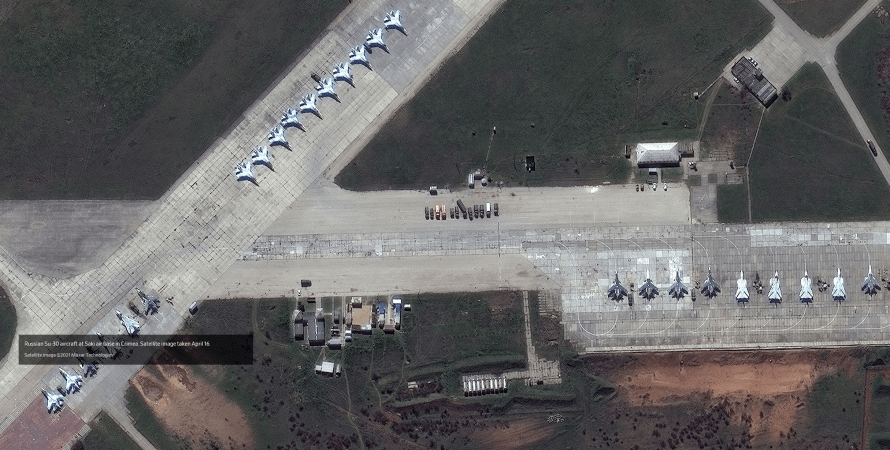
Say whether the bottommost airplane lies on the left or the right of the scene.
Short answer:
left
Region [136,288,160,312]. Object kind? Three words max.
airplane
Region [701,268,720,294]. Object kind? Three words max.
airplane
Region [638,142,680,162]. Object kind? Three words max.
building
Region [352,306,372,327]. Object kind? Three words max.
building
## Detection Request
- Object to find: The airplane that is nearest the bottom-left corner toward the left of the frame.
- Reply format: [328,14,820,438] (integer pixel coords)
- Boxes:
[42,389,66,414]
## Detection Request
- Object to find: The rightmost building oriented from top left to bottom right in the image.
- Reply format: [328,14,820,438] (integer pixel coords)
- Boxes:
[731,58,776,103]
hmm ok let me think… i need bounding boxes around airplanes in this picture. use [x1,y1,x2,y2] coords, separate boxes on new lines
[668,270,688,297]
[701,268,720,294]
[281,103,305,128]
[331,59,354,83]
[735,270,750,300]
[116,308,140,334]
[268,122,291,146]
[297,90,322,114]
[382,7,407,31]
[639,270,658,297]
[800,272,814,300]
[832,268,847,297]
[136,288,160,312]
[315,74,340,98]
[767,271,782,301]
[60,368,83,393]
[249,142,275,168]
[347,42,371,65]
[77,351,101,375]
[42,389,66,414]
[860,265,880,292]
[234,157,258,182]
[365,25,389,49]
[608,271,627,299]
